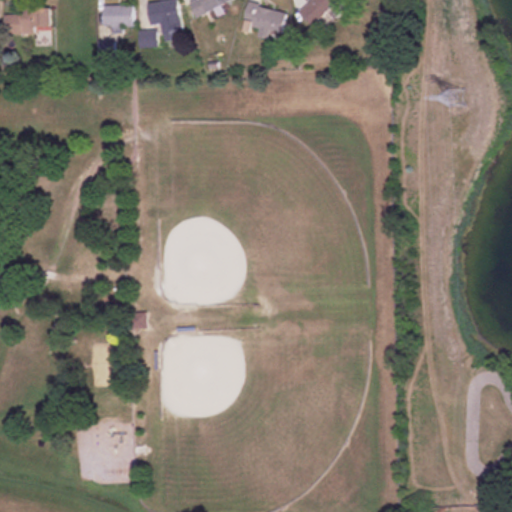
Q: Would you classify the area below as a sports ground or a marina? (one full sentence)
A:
The area seen from above is a sports ground.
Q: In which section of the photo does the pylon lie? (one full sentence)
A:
The pylon appears toward the top right of the photo.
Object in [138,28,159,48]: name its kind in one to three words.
building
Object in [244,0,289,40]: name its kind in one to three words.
house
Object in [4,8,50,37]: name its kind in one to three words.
house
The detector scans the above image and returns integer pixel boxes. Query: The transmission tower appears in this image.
[424,86,466,108]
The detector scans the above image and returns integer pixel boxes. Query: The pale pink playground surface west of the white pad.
[74,416,137,487]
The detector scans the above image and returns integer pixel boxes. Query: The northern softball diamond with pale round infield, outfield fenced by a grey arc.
[160,120,370,307]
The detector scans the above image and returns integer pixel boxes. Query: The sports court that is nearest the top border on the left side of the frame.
[92,342,112,388]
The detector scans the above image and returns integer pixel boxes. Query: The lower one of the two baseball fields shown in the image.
[159,321,372,512]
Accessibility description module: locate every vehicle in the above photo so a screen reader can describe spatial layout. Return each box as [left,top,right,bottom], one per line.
[98,0,104,12]
[296,12,302,23]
